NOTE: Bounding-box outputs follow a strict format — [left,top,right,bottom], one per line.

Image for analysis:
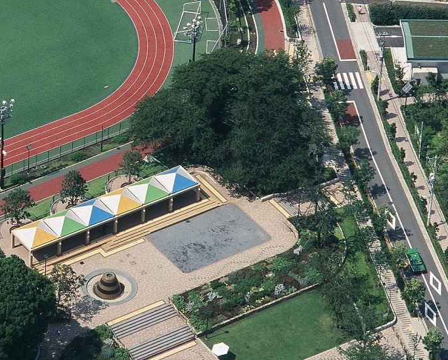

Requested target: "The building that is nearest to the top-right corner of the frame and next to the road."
[382,19,448,99]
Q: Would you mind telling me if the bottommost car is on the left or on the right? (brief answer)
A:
right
